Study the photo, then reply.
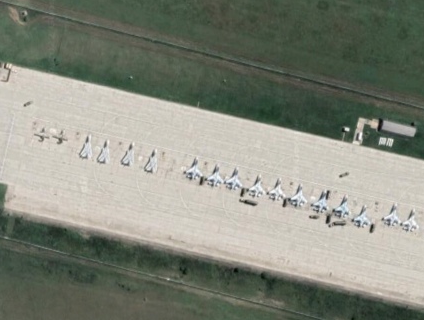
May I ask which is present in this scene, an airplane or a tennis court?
airplane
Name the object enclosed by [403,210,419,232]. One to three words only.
airplane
